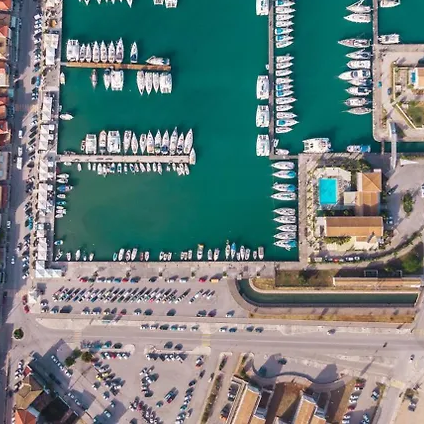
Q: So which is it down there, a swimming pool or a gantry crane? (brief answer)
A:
swimming pool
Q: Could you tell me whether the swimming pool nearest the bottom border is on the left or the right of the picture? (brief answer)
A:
right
